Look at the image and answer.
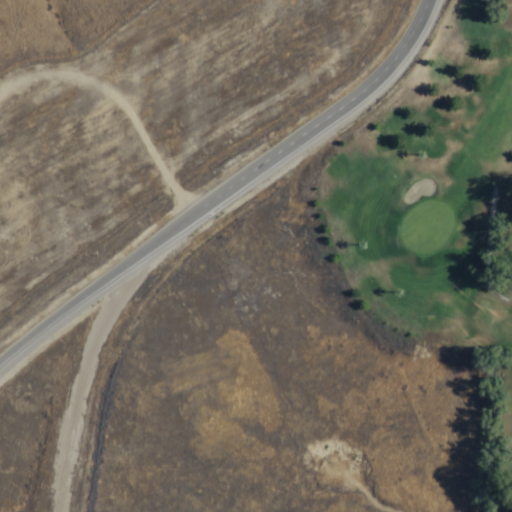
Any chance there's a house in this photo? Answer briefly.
No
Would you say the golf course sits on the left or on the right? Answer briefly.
right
